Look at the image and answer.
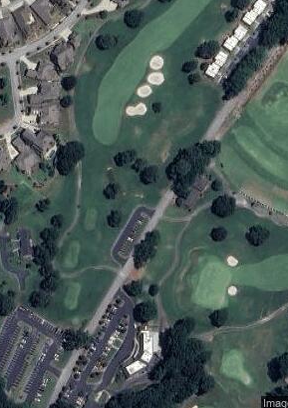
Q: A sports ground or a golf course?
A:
golf course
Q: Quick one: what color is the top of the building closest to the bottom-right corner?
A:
white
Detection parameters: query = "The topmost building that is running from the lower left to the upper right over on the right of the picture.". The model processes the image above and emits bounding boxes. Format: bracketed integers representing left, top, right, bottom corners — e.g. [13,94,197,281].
[242,0,269,25]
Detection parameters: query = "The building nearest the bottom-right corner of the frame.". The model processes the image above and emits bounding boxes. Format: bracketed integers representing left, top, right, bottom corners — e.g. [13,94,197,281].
[127,331,161,377]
